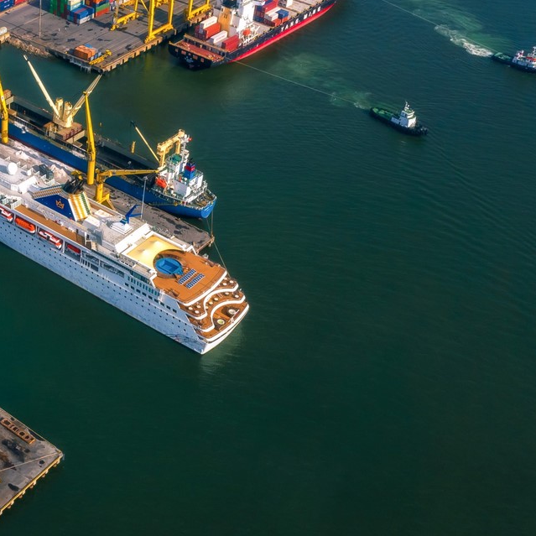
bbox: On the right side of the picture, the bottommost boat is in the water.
[368,99,429,132]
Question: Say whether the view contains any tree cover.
No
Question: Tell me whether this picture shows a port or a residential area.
port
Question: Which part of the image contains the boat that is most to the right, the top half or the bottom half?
top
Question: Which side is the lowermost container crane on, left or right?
left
